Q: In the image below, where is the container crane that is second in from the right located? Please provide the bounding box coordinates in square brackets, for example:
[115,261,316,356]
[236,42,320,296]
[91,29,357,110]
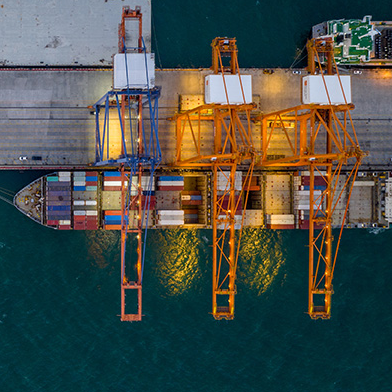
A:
[169,30,266,323]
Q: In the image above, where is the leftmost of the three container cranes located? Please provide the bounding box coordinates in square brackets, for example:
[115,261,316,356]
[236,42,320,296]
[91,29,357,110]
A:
[87,10,160,322]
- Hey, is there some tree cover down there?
No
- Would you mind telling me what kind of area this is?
port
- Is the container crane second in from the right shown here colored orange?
Yes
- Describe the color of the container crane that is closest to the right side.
orange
